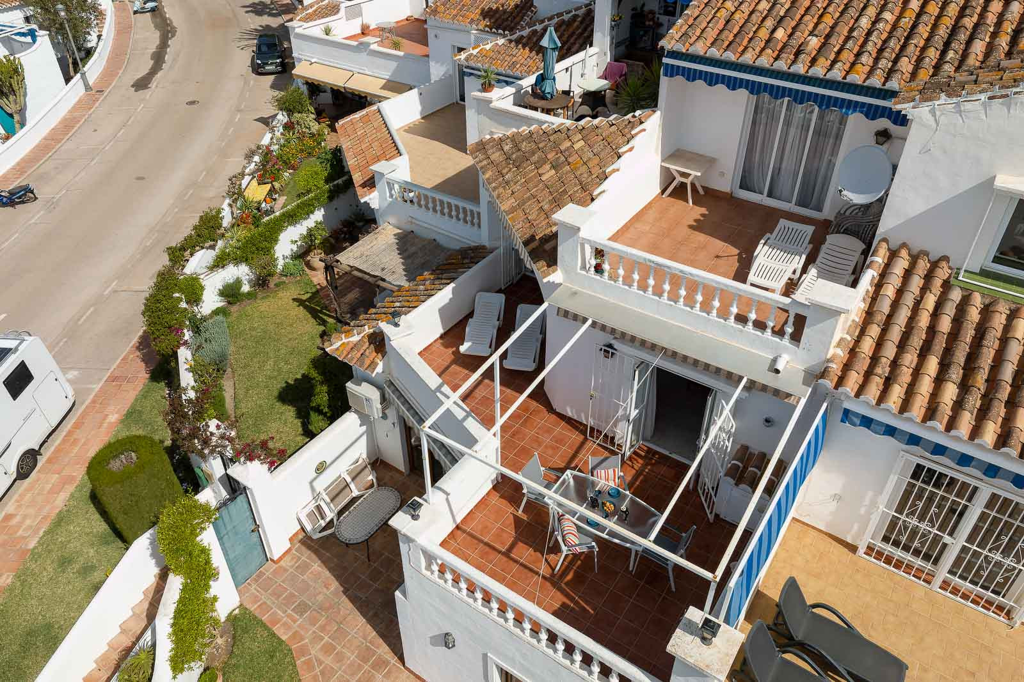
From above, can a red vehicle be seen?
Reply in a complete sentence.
No, I can see no red vehicle in this picture.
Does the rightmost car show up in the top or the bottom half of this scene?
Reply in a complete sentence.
It is in the top half that the rightmost car appears.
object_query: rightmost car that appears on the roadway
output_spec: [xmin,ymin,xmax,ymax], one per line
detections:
[246,22,284,69]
